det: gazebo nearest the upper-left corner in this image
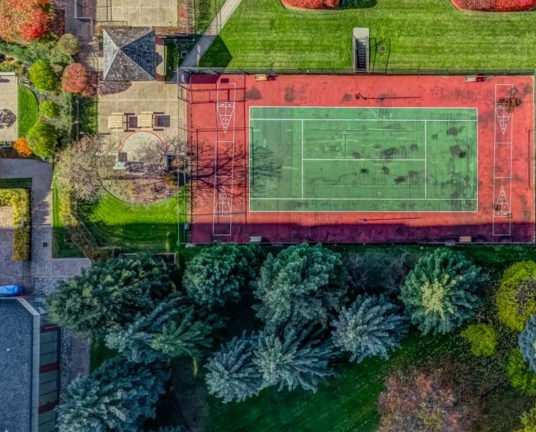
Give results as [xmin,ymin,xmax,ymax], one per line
[103,27,165,83]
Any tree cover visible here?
Yes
